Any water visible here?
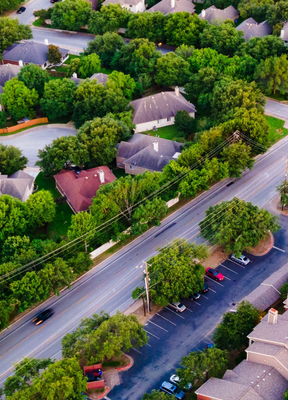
No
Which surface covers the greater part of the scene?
trees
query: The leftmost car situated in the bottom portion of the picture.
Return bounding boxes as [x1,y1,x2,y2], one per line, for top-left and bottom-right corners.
[34,308,55,326]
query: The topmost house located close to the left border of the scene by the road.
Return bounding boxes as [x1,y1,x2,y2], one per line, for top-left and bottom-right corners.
[1,37,70,72]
